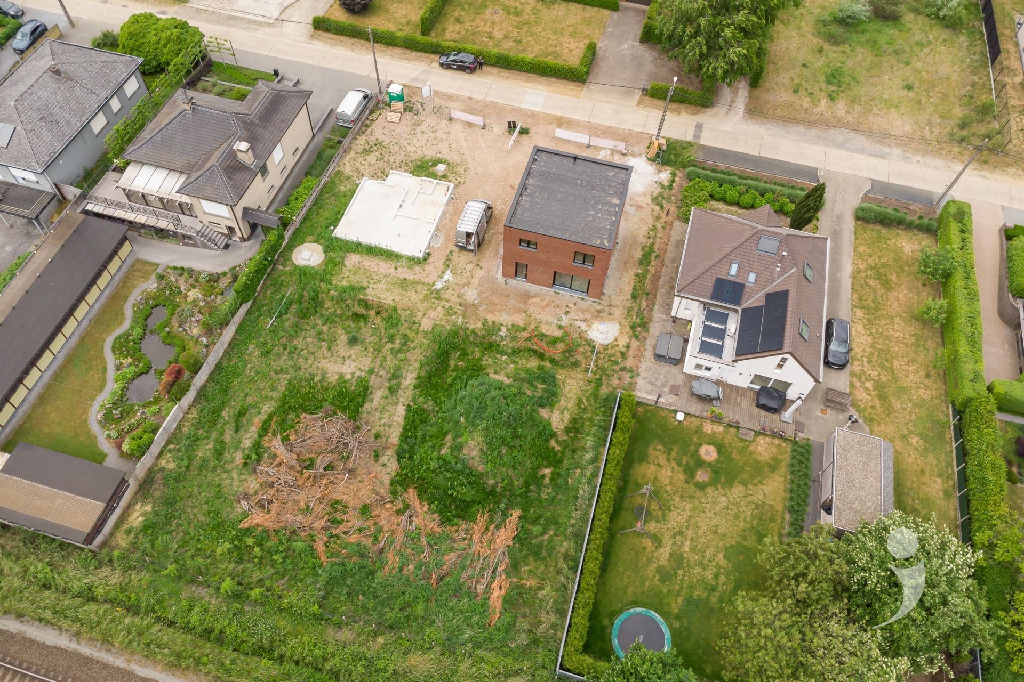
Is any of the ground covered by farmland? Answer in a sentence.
No, there is no farmland in the image.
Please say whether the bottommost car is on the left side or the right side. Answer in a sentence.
You can find the bottommost car on the right side of the picture.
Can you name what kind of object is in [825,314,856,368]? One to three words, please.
car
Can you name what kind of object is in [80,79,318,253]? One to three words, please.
house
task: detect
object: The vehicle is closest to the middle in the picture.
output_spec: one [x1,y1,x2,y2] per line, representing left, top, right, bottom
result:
[453,202,489,254]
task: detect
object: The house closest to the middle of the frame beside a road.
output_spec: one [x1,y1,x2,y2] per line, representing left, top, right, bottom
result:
[502,145,635,300]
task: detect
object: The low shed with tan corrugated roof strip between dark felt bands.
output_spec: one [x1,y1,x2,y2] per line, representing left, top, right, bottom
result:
[0,442,133,551]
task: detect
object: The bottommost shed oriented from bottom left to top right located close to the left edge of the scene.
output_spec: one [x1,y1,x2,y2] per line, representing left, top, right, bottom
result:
[0,212,134,424]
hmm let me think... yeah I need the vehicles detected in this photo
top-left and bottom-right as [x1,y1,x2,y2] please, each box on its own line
[9,20,49,51]
[0,0,24,14]
[437,50,479,72]
[825,314,856,368]
[329,89,365,125]
[453,202,489,254]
